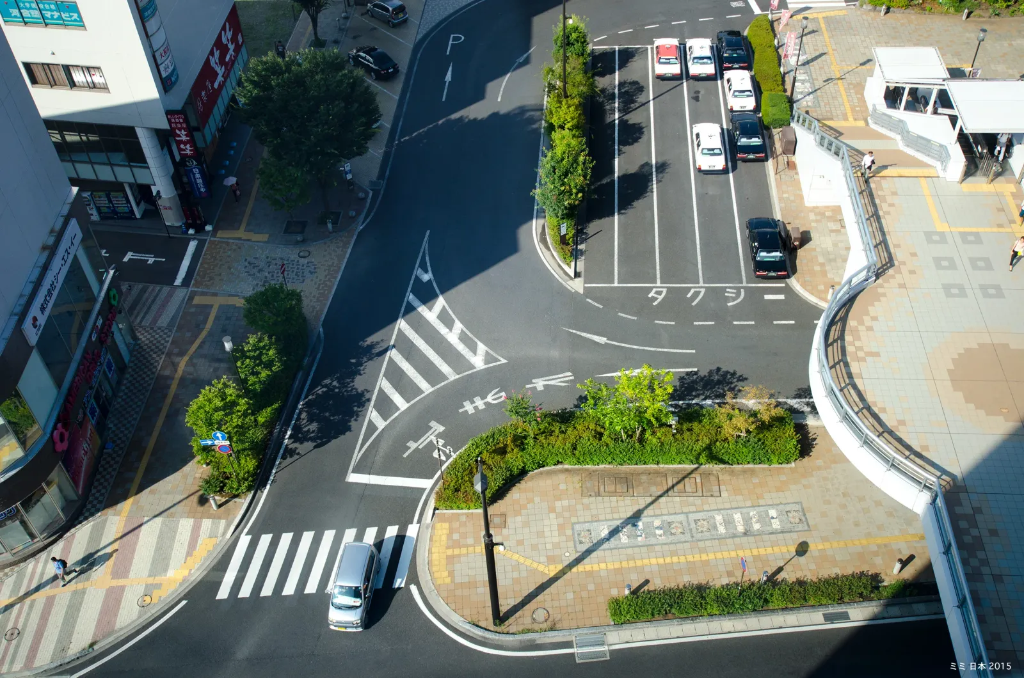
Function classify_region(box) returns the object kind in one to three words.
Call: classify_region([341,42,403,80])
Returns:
car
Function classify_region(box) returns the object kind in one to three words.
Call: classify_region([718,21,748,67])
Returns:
car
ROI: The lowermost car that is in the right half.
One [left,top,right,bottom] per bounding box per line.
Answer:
[746,211,785,276]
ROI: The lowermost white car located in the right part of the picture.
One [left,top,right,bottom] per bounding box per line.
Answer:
[691,115,726,171]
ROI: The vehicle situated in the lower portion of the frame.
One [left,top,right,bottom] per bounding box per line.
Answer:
[330,545,382,629]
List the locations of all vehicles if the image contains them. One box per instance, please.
[652,31,680,77]
[685,31,715,77]
[725,60,756,109]
[691,115,726,171]
[746,211,785,276]
[718,21,748,67]
[359,0,405,30]
[330,545,382,629]
[732,105,766,159]
[341,42,403,80]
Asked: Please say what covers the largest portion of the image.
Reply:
paved ground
